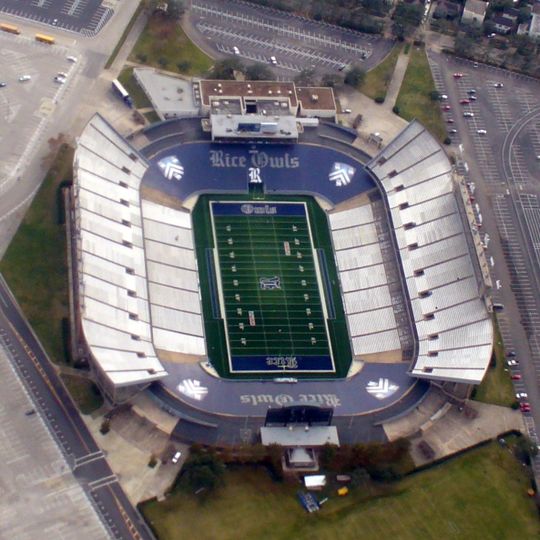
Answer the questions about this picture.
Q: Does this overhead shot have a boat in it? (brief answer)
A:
No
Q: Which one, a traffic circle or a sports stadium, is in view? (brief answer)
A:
sports stadium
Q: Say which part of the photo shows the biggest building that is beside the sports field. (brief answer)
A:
top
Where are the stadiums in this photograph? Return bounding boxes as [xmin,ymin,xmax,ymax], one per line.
[65,109,499,447]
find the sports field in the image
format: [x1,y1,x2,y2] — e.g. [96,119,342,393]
[193,194,353,380]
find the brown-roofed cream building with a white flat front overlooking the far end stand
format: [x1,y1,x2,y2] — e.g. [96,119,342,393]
[193,80,335,144]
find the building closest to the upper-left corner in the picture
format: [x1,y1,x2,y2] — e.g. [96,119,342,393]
[133,67,198,119]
